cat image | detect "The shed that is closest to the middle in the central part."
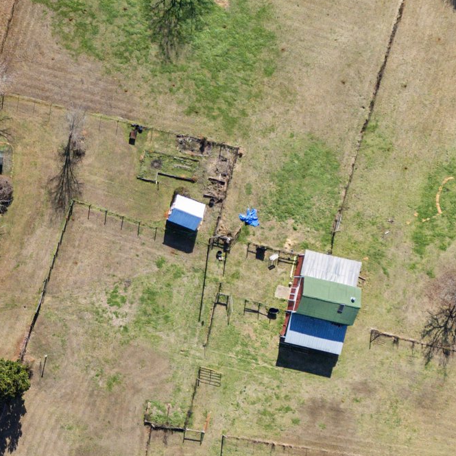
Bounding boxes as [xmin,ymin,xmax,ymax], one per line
[167,194,211,232]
